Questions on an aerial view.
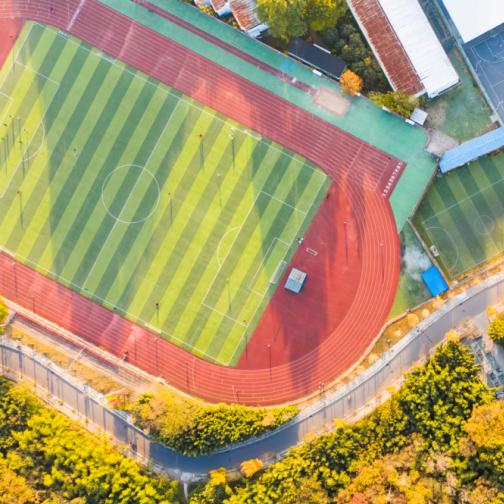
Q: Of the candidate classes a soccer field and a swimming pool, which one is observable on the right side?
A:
soccer field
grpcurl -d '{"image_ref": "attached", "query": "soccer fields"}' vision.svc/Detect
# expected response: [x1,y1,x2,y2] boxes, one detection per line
[0,20,332,368]
[411,145,504,288]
